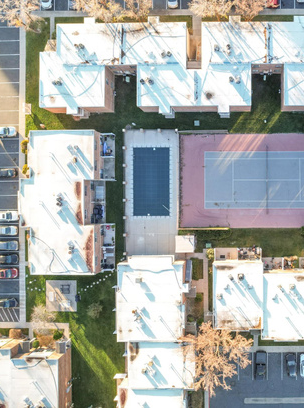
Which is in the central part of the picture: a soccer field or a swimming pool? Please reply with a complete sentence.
There is a swimming pool in the central part of the picture.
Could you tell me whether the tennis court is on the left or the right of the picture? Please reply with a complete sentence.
It is on the right.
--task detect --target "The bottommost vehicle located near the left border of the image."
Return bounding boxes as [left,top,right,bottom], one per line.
[0,295,19,307]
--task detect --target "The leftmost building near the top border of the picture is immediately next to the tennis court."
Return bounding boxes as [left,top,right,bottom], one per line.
[38,16,198,120]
